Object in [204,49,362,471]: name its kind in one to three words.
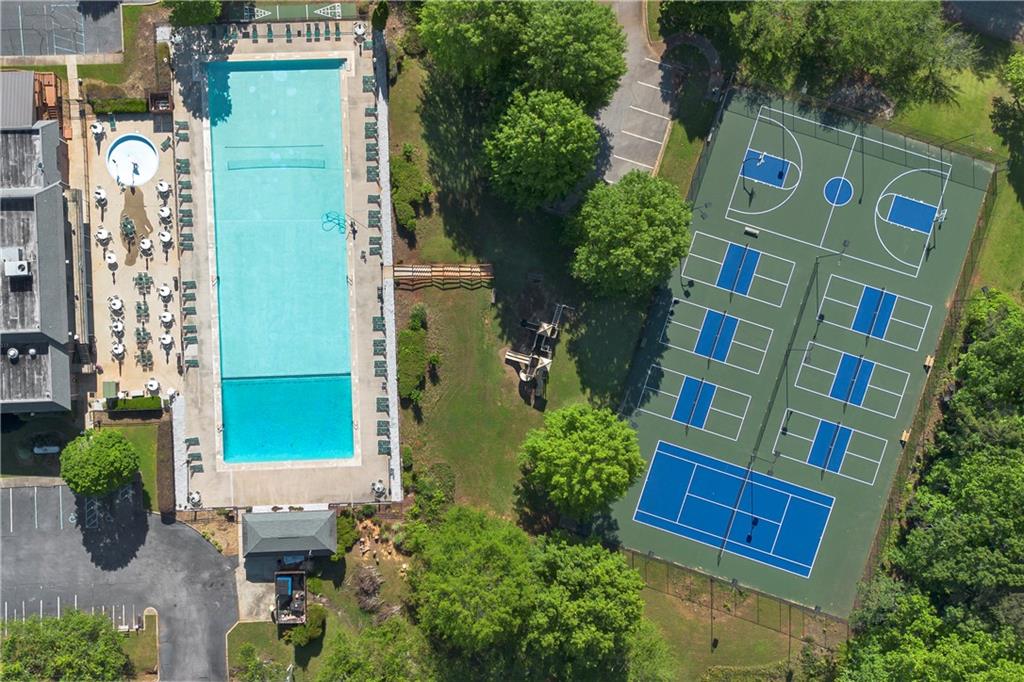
swimming pool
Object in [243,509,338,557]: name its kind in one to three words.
building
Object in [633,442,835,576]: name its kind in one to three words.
tennis court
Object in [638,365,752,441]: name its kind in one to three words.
sports court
